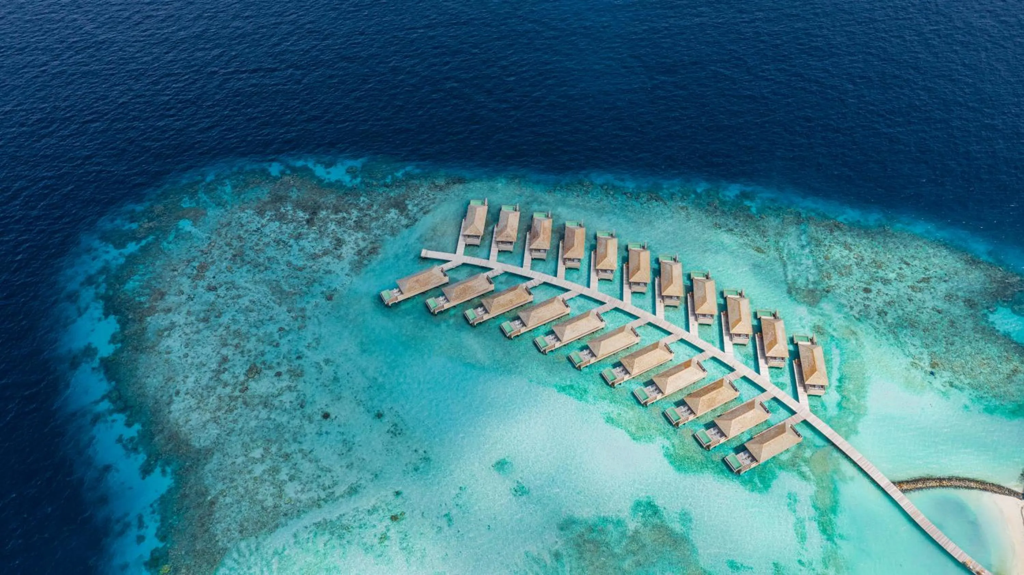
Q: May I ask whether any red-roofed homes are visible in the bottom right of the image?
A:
No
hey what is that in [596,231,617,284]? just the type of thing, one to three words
house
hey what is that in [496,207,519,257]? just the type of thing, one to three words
house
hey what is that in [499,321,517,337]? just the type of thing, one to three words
swimming pool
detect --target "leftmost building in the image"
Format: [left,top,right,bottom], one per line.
[380,265,450,312]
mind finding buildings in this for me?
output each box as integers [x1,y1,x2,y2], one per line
[757,310,788,369]
[673,378,741,429]
[530,216,552,264]
[661,255,683,309]
[542,309,607,355]
[380,265,450,312]
[463,203,487,251]
[464,284,535,330]
[507,296,572,342]
[734,422,803,477]
[627,247,650,297]
[641,359,708,409]
[426,272,496,319]
[723,291,752,347]
[704,399,772,452]
[496,207,519,257]
[576,324,641,372]
[596,231,617,284]
[609,341,676,389]
[792,336,828,397]
[564,221,585,272]
[690,272,717,325]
